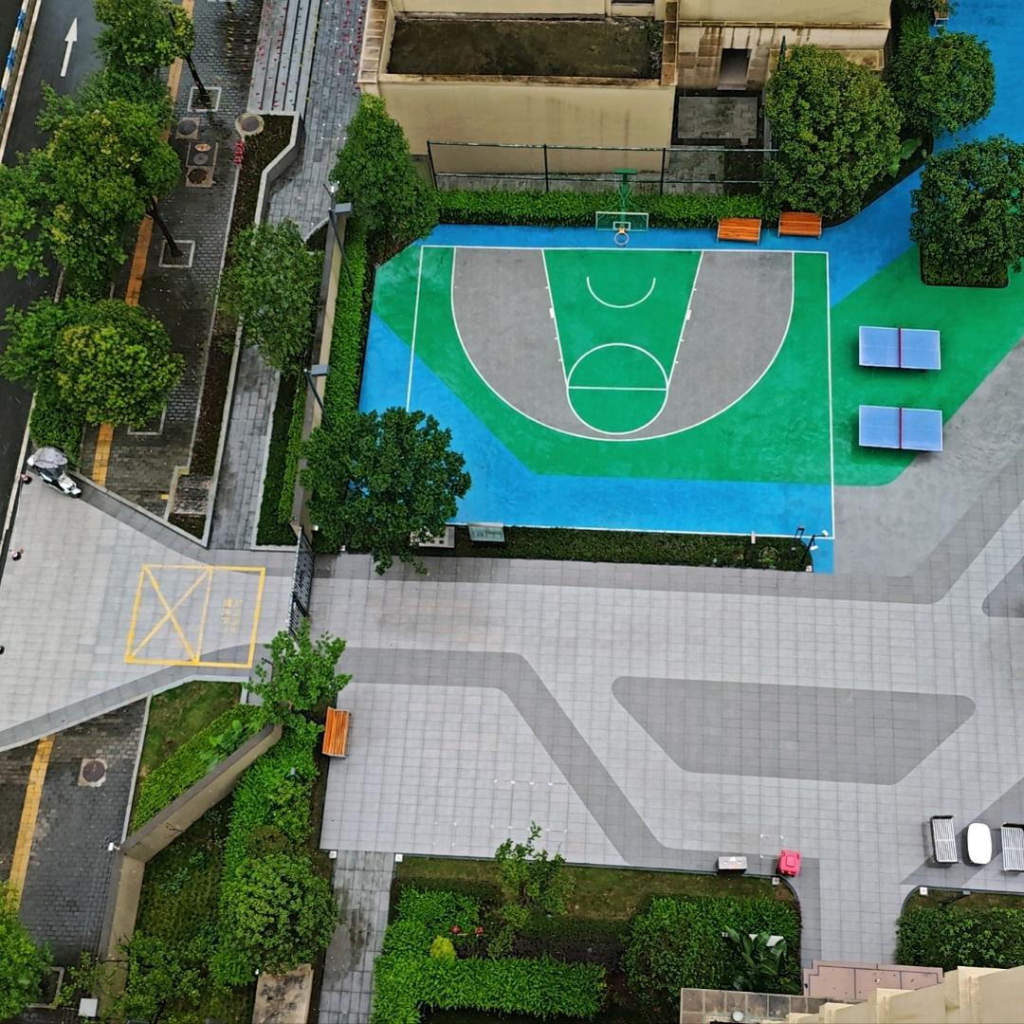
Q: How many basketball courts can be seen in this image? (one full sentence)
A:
The picture shows 1 basketball court.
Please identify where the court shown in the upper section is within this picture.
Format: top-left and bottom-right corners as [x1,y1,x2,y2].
[355,225,839,571]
